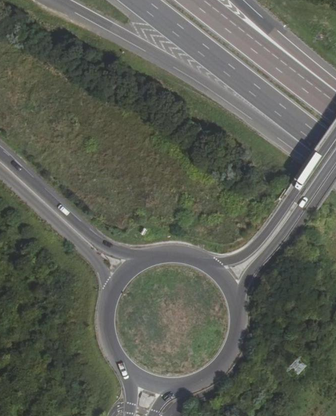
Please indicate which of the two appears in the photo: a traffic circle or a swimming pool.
traffic circle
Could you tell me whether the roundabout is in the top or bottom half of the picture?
bottom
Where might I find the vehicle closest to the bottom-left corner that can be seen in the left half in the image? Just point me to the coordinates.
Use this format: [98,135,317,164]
[115,360,127,378]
